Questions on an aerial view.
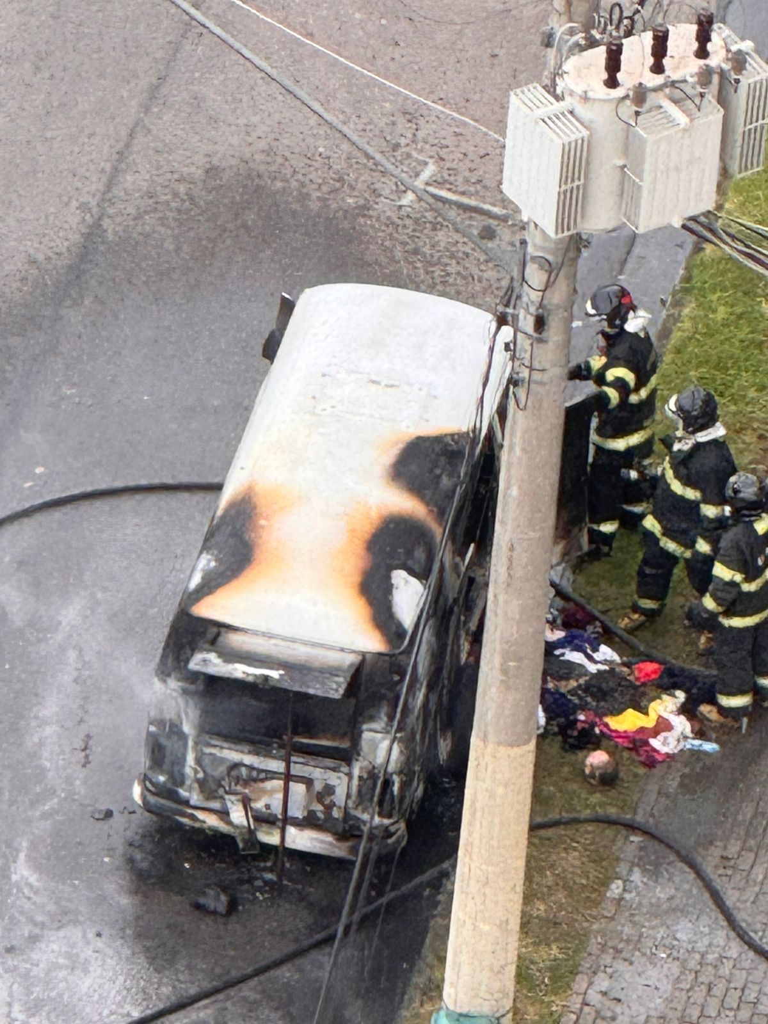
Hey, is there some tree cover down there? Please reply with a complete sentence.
No, there is no tree cover in the image.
